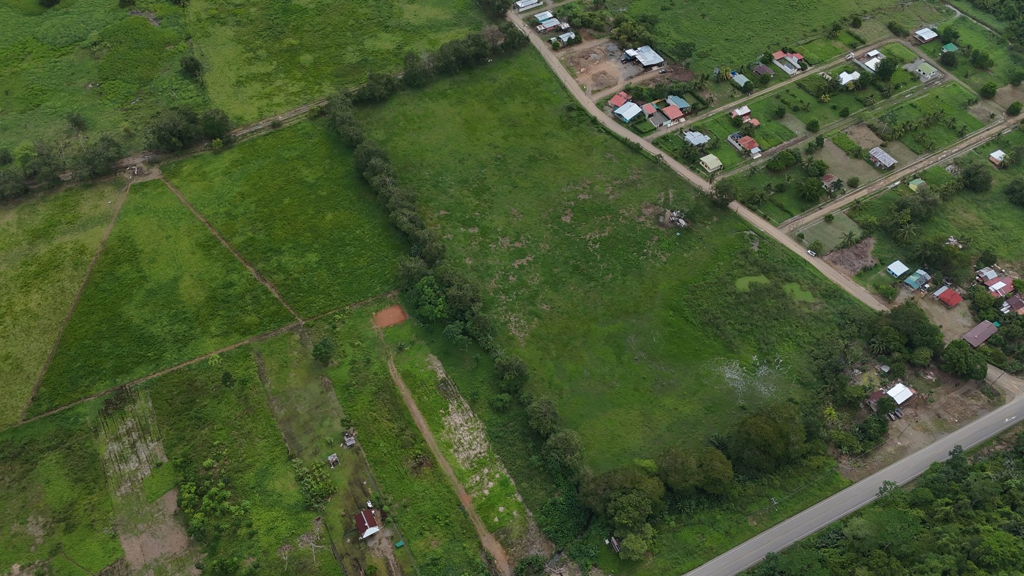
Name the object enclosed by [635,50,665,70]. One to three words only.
building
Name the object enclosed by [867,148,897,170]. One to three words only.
barn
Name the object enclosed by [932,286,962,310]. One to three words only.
house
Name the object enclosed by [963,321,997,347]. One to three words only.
house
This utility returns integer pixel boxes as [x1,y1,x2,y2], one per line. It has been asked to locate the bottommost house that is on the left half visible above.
[355,510,379,538]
